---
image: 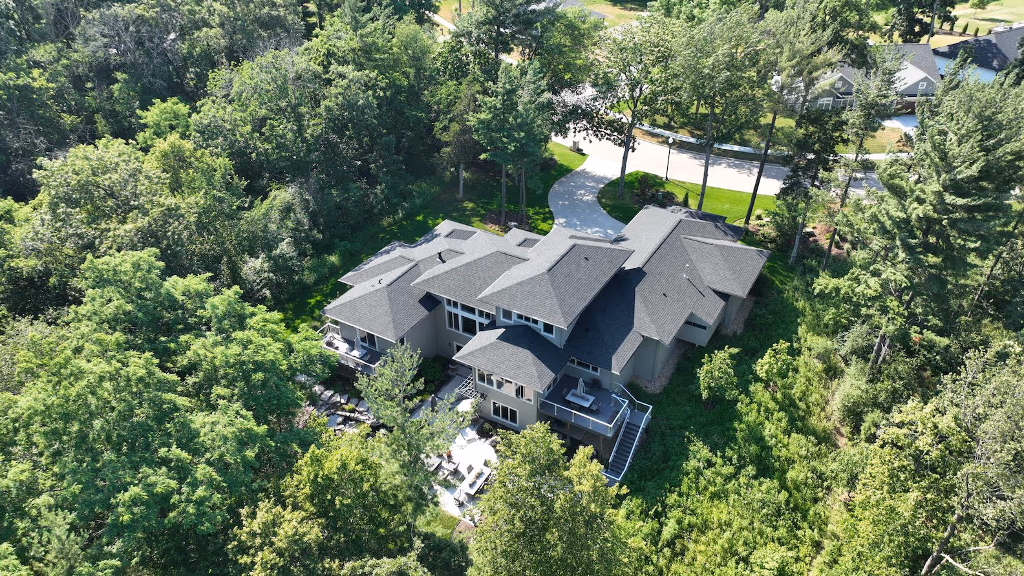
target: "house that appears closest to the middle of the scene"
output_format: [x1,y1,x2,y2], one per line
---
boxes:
[322,204,772,449]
